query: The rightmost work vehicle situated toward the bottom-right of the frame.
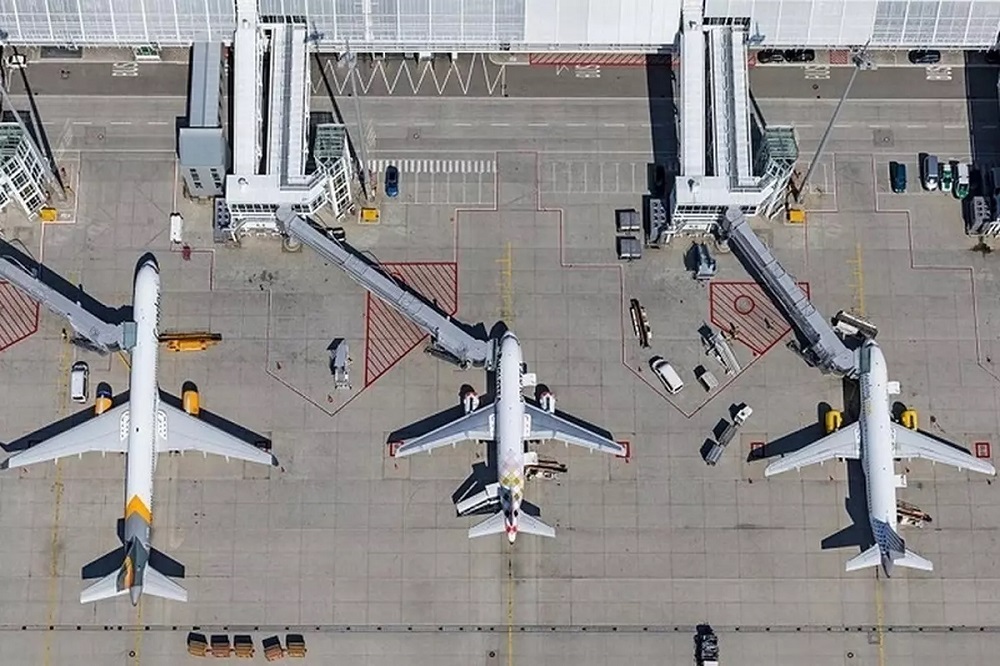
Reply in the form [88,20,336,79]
[896,506,934,532]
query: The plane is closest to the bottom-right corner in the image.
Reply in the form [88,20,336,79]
[761,339,997,573]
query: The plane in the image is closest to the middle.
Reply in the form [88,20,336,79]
[394,332,627,541]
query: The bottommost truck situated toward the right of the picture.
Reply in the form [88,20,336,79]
[699,631,721,666]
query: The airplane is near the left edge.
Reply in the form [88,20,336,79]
[0,256,276,604]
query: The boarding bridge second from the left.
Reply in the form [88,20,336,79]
[272,208,498,376]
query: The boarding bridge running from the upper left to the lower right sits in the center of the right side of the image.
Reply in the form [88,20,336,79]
[718,209,873,380]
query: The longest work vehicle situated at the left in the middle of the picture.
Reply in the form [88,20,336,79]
[161,339,219,364]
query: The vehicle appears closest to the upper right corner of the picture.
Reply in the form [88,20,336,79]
[912,49,942,67]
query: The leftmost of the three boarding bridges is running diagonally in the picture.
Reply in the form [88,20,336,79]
[0,256,139,367]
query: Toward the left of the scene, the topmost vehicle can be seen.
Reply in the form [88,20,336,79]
[385,165,399,196]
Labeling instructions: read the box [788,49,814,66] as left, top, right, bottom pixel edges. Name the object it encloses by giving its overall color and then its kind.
black car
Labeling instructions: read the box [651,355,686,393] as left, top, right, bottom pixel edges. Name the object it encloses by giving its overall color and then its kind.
white vehicle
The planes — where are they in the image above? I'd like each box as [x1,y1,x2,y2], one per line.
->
[761,339,997,573]
[394,332,627,541]
[0,256,276,604]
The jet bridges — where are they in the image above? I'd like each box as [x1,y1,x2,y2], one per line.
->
[272,208,498,376]
[0,256,139,367]
[718,209,873,380]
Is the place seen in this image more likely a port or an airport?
airport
